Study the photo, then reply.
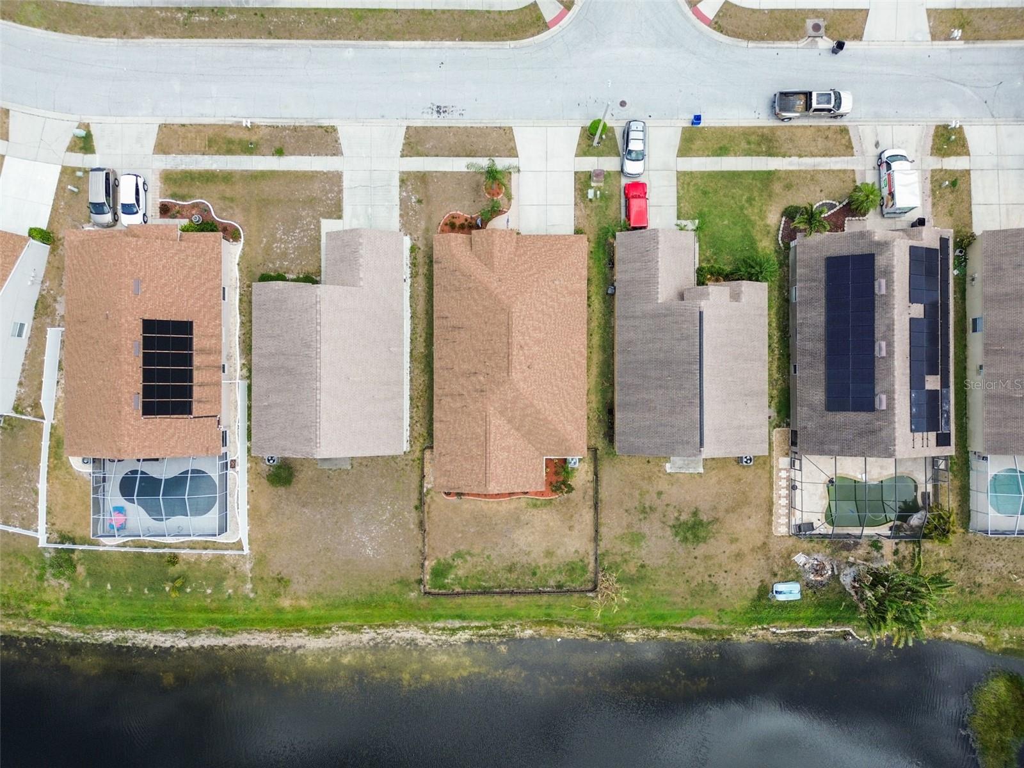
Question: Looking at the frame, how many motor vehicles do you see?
6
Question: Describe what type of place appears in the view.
residential area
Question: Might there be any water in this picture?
Yes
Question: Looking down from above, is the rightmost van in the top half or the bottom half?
top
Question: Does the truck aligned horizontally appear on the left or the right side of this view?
right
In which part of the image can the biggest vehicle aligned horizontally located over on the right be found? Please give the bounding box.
[769,86,848,120]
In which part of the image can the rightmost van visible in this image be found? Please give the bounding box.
[879,148,921,217]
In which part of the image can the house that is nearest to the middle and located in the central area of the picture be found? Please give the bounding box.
[433,228,588,498]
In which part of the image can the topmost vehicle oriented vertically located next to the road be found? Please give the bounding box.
[622,121,649,179]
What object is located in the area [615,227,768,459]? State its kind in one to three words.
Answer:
house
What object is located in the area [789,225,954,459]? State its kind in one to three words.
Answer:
house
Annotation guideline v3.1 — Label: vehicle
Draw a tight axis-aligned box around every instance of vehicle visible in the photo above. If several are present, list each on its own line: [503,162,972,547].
[769,86,848,120]
[118,173,149,228]
[622,121,649,179]
[87,167,121,229]
[624,180,649,230]
[879,148,921,217]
